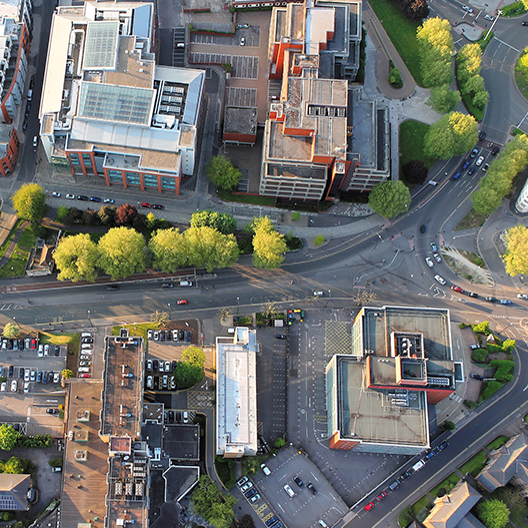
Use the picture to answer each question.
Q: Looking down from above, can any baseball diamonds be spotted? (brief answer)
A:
No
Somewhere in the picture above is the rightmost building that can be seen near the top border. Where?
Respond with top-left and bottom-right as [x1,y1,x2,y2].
[257,0,390,202]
